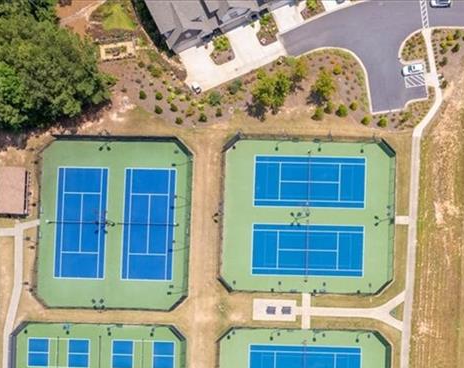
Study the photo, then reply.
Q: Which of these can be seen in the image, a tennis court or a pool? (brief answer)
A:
tennis court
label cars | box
[402,62,424,76]
[430,0,451,8]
